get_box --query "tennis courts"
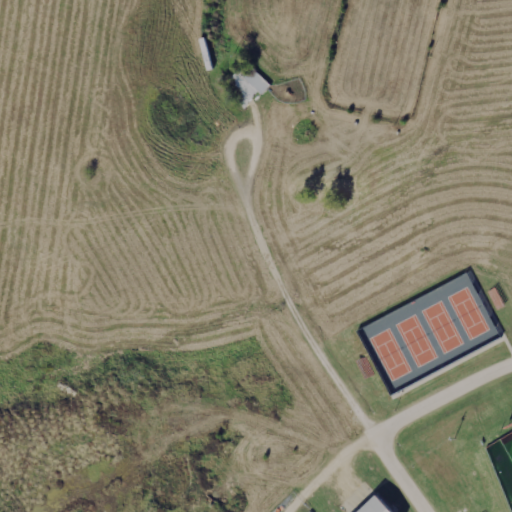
[370,328,411,380]
[448,288,490,340]
[422,301,464,354]
[396,314,437,367]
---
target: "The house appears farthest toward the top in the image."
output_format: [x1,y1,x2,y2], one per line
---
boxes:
[233,70,272,107]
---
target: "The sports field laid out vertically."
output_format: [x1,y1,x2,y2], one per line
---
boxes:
[488,433,512,512]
